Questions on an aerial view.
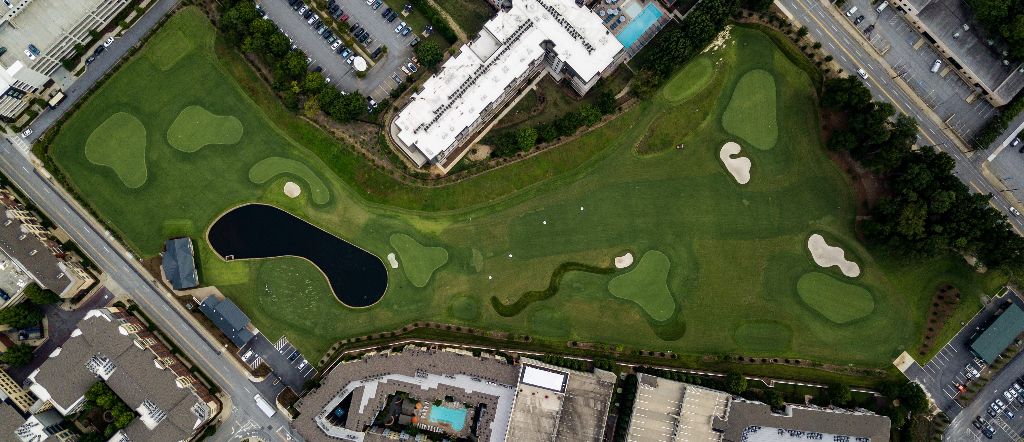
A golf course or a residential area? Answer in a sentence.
It's a golf course.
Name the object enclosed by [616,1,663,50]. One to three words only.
swimming pool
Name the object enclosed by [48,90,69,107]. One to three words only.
vehicle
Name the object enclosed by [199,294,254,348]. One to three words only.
building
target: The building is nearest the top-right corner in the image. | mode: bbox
[888,0,1024,106]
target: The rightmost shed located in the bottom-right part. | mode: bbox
[965,303,1024,364]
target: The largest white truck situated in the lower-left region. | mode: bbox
[255,394,279,419]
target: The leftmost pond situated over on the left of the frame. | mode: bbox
[205,202,388,309]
